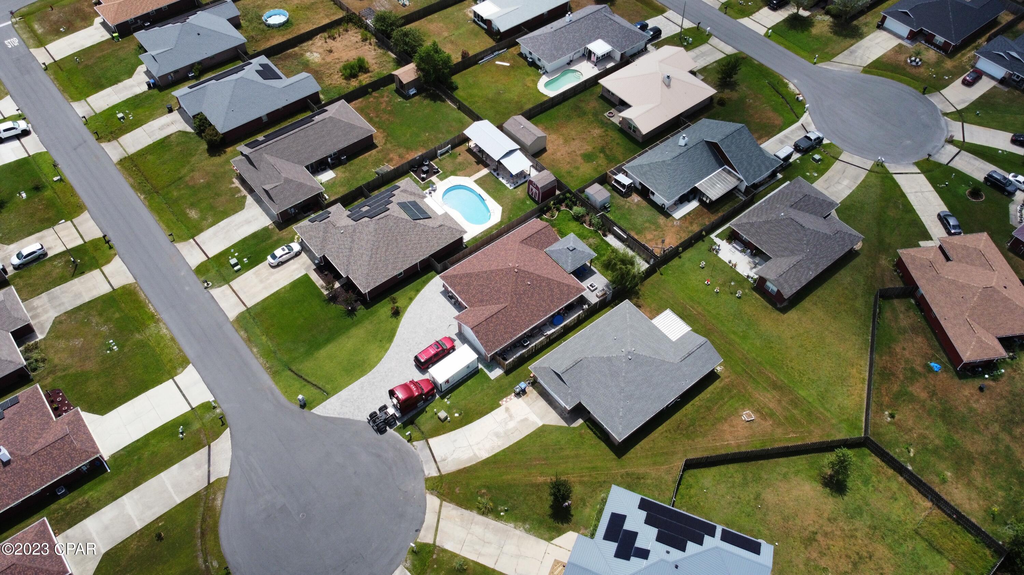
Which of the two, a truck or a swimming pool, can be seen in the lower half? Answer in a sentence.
Looking in the lower half, you will find a truck.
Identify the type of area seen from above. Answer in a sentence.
This looks like a residential area.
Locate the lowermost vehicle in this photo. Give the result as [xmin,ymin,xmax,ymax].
[363,376,443,431]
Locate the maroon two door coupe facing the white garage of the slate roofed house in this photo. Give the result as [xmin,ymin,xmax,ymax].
[960,66,985,84]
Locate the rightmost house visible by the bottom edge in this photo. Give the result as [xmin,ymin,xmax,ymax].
[562,484,775,575]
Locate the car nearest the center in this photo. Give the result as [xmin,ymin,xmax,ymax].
[413,337,459,370]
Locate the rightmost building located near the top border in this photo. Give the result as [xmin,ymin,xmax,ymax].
[972,19,1024,88]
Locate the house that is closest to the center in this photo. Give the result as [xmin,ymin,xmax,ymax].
[438,217,587,363]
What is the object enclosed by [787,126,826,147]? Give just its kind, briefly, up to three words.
truck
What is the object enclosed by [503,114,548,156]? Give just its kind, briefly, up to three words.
shed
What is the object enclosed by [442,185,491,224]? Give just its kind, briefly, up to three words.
swimming pool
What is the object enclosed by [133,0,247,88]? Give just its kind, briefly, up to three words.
house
